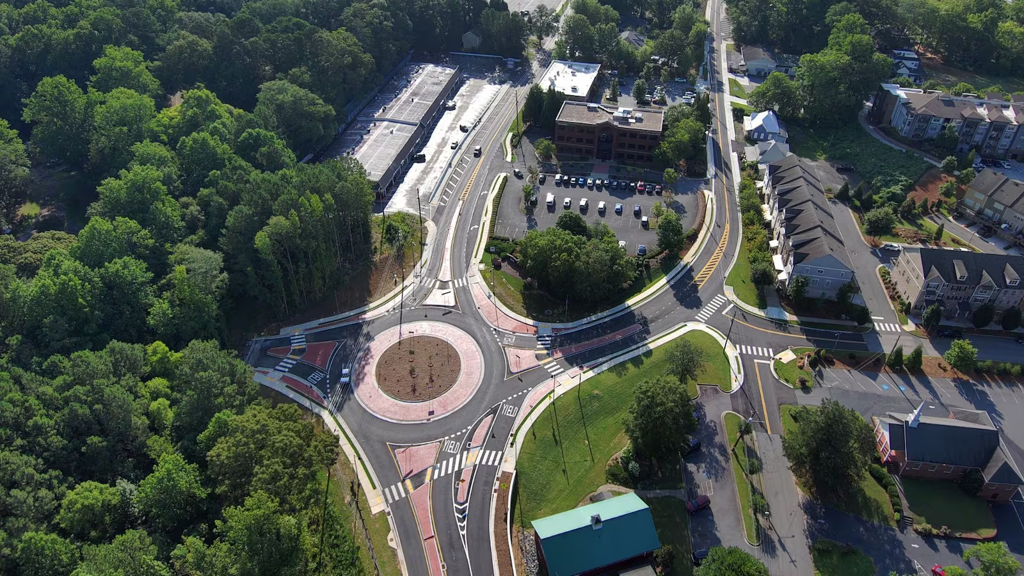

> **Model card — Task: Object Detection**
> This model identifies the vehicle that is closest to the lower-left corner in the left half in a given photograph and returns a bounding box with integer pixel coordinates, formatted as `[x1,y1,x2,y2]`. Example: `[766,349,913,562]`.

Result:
[339,365,352,383]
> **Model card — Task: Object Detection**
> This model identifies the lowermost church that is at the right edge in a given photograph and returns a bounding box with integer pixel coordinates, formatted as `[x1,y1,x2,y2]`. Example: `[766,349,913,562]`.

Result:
[854,388,1024,510]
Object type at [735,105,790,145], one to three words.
house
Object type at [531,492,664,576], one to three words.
barn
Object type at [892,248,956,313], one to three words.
house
